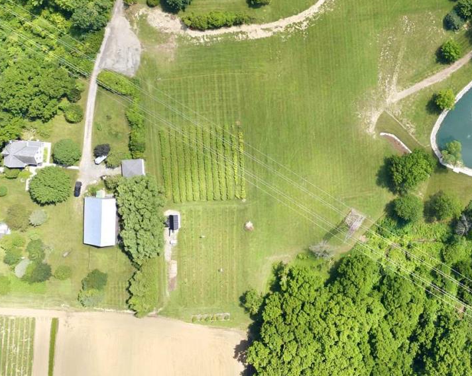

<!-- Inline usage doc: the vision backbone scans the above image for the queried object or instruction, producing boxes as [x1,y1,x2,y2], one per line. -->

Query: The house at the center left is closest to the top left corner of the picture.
[1,140,47,168]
